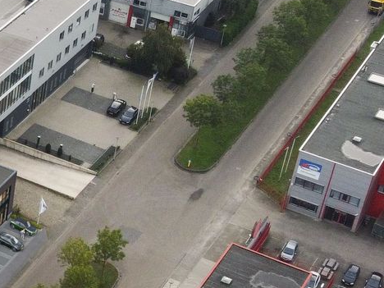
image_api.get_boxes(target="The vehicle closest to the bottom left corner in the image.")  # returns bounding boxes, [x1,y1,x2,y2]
[0,234,27,254]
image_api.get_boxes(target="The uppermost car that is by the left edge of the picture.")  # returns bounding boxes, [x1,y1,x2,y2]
[7,216,38,236]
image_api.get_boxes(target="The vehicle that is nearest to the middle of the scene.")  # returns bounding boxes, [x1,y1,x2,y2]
[119,106,138,126]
